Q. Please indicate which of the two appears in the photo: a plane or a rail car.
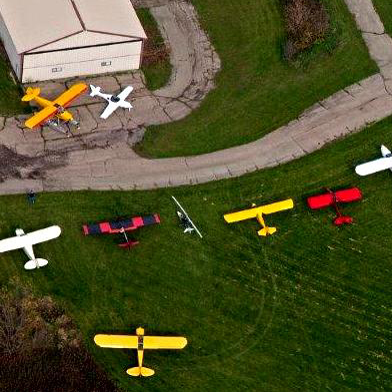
plane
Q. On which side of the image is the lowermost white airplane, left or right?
left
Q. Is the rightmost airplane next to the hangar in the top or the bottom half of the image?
top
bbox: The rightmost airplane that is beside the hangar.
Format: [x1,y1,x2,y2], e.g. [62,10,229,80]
[86,81,136,117]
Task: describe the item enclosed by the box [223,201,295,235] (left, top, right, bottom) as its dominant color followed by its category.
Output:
yellow airplane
